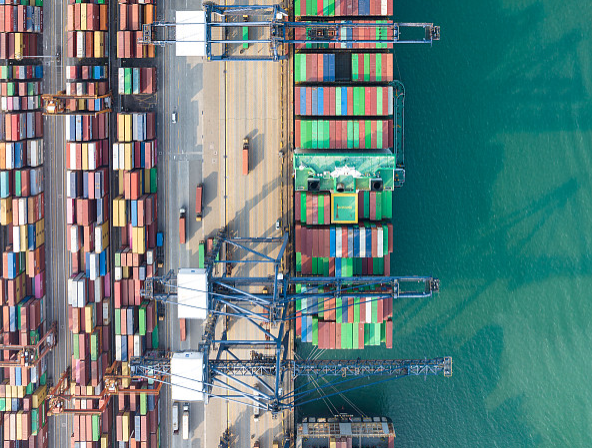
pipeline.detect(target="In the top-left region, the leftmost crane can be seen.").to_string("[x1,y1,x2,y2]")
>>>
[39,89,115,117]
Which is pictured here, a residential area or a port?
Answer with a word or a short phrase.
port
